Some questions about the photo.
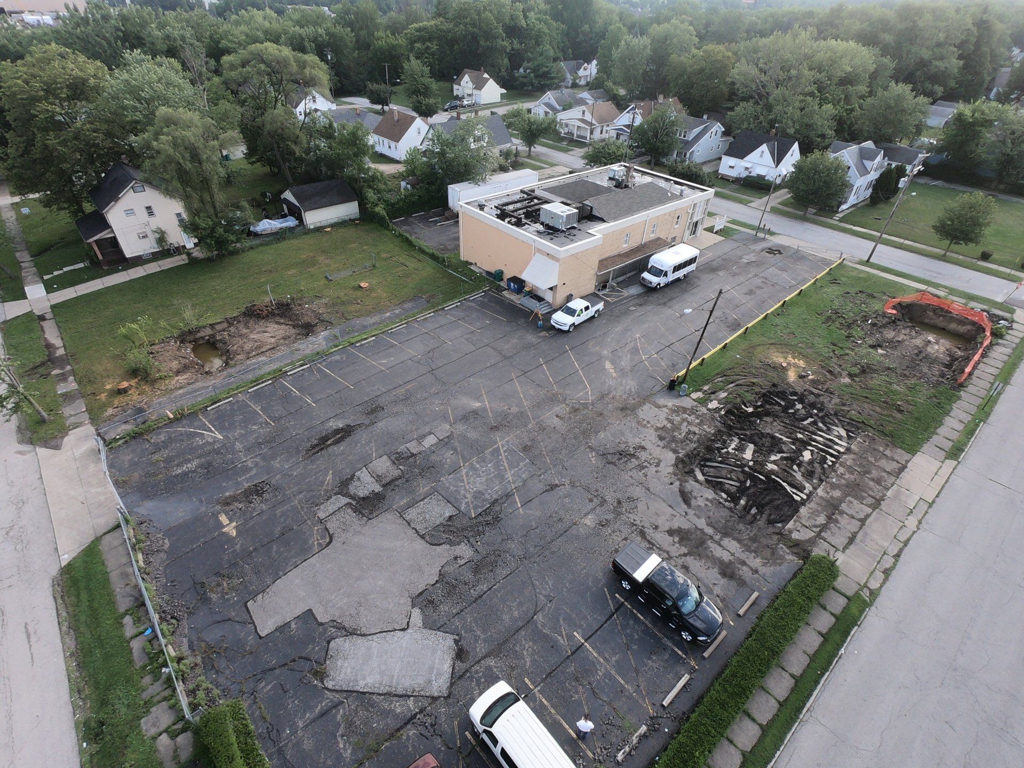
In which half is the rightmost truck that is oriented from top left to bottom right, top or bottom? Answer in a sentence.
The rightmost truck that is oriented from top left to bottom right is in the bottom half of the image.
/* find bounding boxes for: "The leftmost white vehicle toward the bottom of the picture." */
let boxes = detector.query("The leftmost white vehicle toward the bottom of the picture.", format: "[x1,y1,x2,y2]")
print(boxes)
[468,676,584,768]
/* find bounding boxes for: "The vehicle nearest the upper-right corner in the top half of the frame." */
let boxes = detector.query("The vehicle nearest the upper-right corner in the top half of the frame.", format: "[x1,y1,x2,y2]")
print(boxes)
[634,239,699,287]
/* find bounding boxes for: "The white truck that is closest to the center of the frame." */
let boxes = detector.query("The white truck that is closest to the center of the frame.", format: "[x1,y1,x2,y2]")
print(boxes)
[548,292,607,330]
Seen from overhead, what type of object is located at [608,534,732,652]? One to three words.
truck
